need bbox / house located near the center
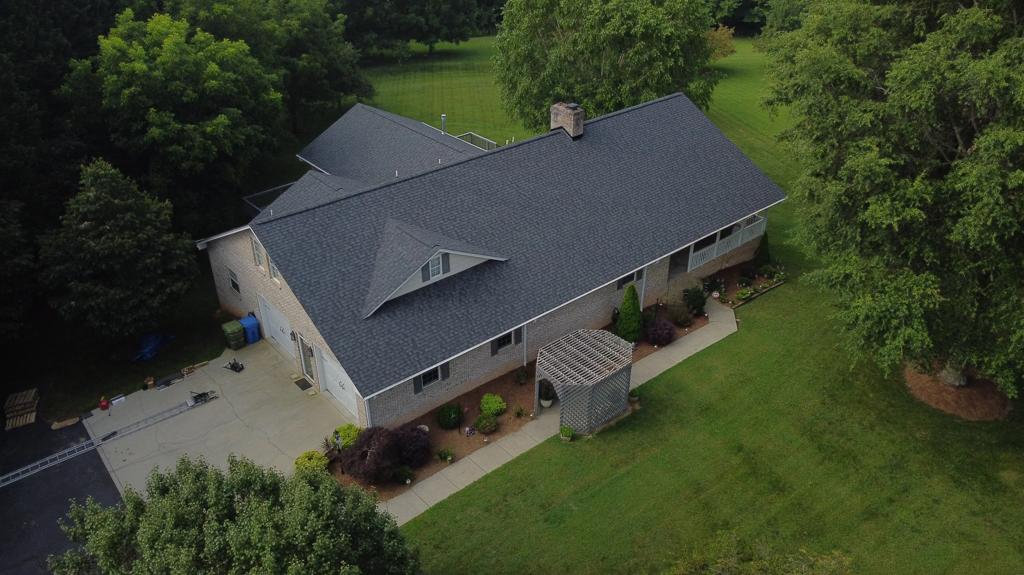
[194,93,787,430]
